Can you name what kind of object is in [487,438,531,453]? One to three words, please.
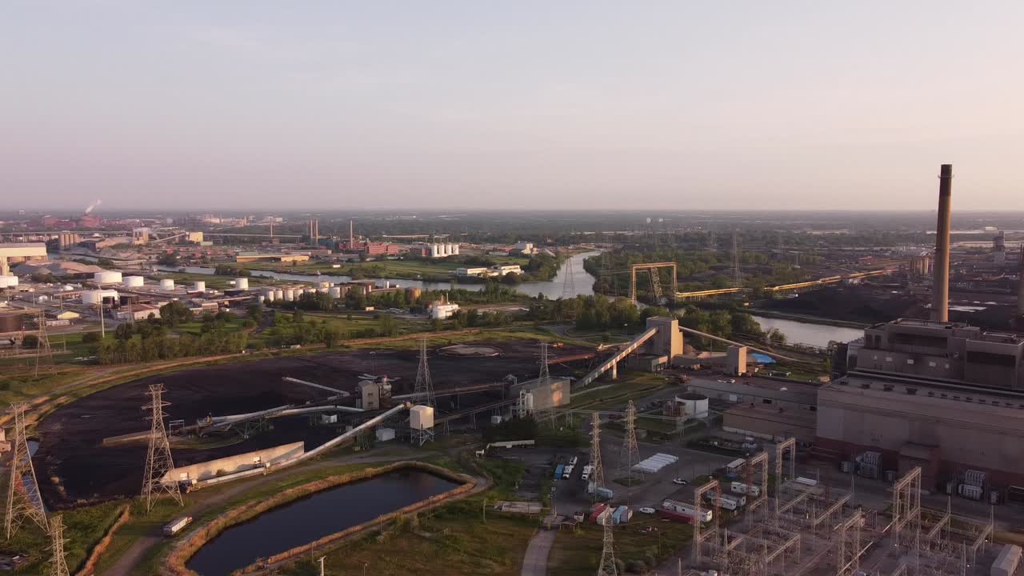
vehicle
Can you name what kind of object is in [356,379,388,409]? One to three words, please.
house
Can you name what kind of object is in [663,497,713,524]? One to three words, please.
trailer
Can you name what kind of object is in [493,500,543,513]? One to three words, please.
building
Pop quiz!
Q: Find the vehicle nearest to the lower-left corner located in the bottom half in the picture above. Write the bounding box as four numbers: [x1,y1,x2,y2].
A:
[161,517,195,538]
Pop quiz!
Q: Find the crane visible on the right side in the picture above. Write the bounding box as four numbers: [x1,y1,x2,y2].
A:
[605,260,679,304]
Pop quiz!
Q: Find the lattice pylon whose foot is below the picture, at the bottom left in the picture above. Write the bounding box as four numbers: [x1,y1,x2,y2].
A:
[36,484,72,576]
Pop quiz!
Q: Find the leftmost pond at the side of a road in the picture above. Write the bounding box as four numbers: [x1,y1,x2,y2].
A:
[183,468,462,576]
